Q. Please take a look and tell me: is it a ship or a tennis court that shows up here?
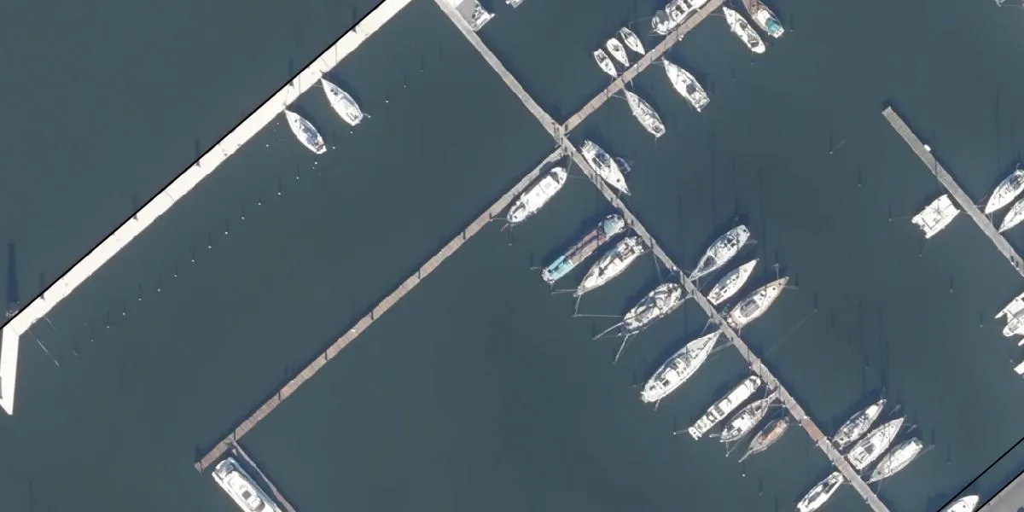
ship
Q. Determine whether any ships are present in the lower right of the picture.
Yes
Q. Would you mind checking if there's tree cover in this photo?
No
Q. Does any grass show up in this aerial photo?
No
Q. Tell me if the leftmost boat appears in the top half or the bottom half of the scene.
bottom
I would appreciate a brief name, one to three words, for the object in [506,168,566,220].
vessel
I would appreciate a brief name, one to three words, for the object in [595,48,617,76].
boat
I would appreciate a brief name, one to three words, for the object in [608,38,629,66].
boat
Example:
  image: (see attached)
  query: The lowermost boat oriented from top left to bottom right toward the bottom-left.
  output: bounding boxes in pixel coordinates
[212,456,279,512]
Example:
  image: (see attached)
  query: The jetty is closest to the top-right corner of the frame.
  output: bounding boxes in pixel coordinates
[883,106,1024,277]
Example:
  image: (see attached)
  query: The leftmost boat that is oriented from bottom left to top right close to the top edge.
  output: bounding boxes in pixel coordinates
[651,0,704,34]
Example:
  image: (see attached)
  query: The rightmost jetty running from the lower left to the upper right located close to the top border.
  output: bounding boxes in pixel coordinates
[562,0,721,133]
